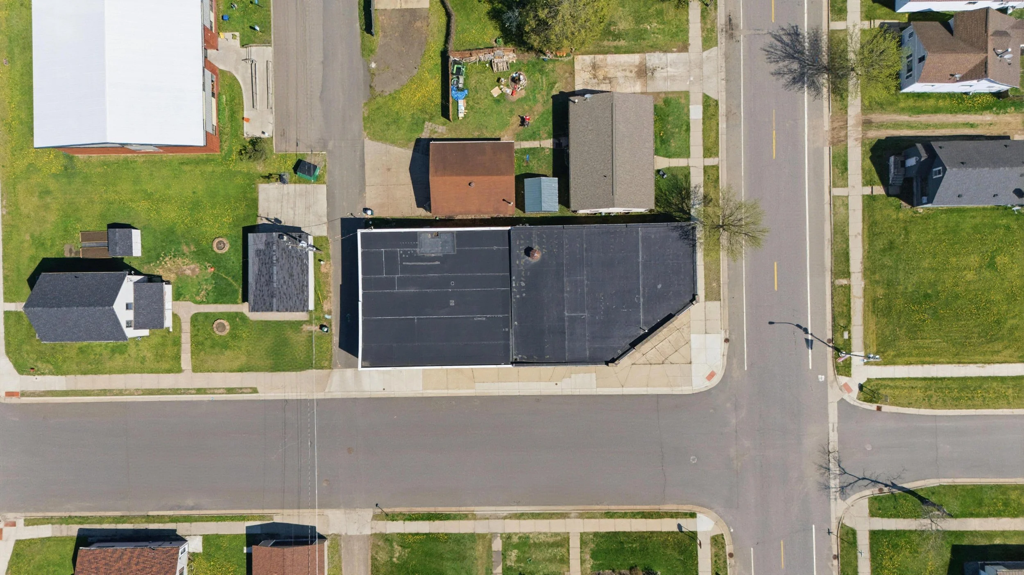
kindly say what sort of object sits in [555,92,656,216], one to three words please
house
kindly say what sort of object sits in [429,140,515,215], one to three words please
building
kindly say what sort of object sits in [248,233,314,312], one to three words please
building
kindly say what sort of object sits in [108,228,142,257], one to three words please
shed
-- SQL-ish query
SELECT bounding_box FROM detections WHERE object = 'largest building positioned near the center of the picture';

[358,218,702,370]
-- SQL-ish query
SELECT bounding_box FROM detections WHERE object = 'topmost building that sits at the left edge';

[32,0,220,156]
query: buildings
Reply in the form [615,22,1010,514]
[555,92,656,216]
[74,539,190,575]
[965,559,1024,575]
[252,540,328,575]
[248,233,314,312]
[358,218,702,370]
[108,228,142,257]
[32,0,220,156]
[897,7,1019,95]
[429,140,515,215]
[891,140,1024,207]
[524,177,558,214]
[23,271,172,343]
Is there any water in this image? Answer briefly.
No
